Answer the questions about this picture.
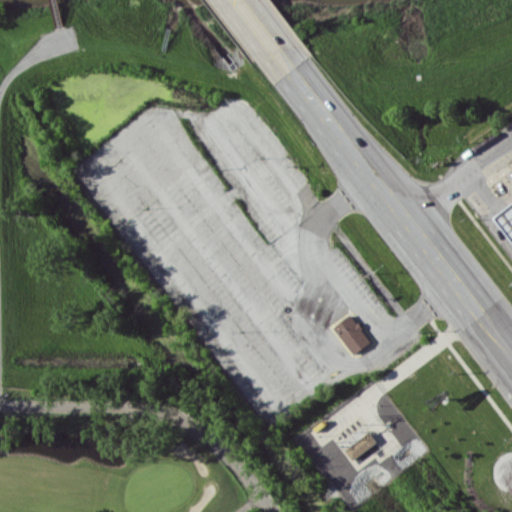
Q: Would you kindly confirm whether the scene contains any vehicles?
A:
Yes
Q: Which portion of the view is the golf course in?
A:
bottom left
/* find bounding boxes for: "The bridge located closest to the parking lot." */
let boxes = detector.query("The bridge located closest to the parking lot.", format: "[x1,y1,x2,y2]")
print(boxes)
[205,0,310,93]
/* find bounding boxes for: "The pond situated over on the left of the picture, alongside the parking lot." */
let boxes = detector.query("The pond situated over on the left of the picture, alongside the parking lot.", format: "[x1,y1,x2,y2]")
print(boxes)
[60,72,172,150]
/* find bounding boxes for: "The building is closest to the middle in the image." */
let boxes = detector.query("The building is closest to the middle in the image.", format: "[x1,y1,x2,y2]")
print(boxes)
[336,318,370,353]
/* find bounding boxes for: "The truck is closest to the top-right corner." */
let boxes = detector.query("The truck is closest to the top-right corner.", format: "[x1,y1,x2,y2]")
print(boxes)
[460,136,500,160]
